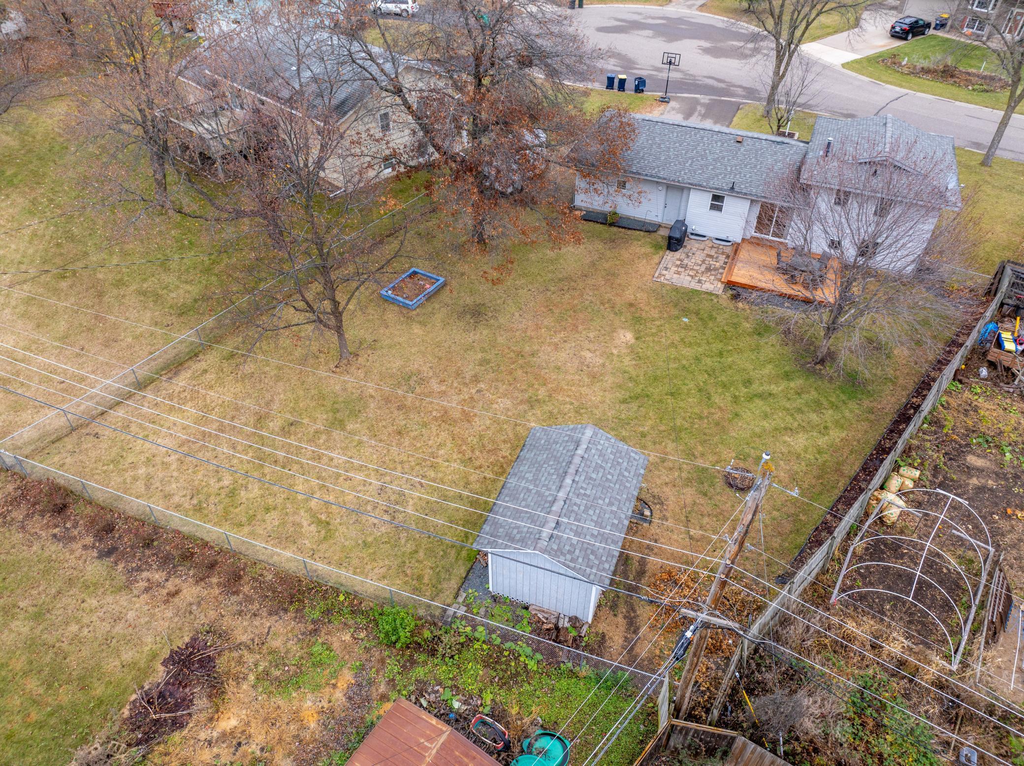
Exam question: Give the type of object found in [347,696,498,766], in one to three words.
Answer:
shed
